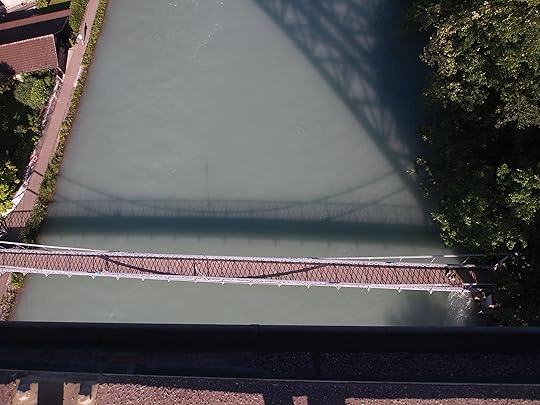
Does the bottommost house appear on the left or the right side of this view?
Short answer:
left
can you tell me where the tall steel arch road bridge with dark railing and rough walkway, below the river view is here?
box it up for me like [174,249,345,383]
[0,322,540,405]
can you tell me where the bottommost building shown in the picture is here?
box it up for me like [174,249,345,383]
[0,27,68,88]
